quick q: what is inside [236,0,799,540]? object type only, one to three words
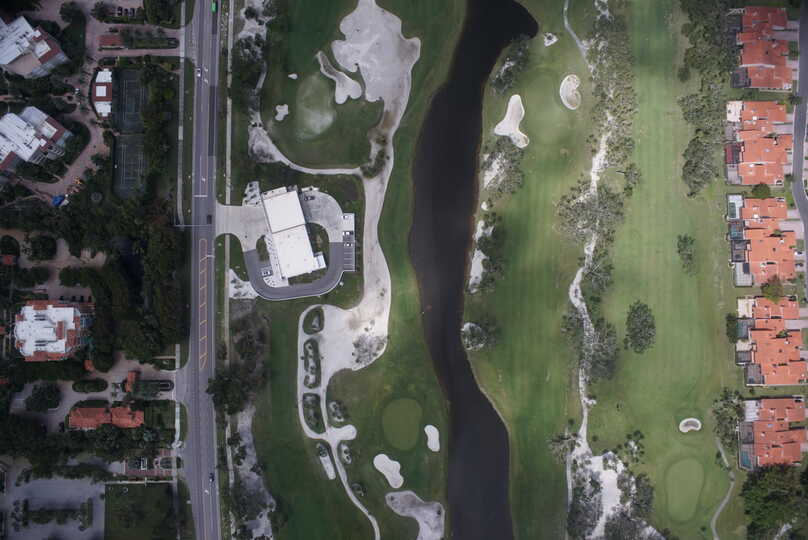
golf course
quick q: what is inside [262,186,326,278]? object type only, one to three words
building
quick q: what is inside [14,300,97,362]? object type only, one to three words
building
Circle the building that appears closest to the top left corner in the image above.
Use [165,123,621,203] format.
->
[0,15,69,81]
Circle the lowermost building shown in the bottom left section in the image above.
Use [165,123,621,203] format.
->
[69,405,145,428]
